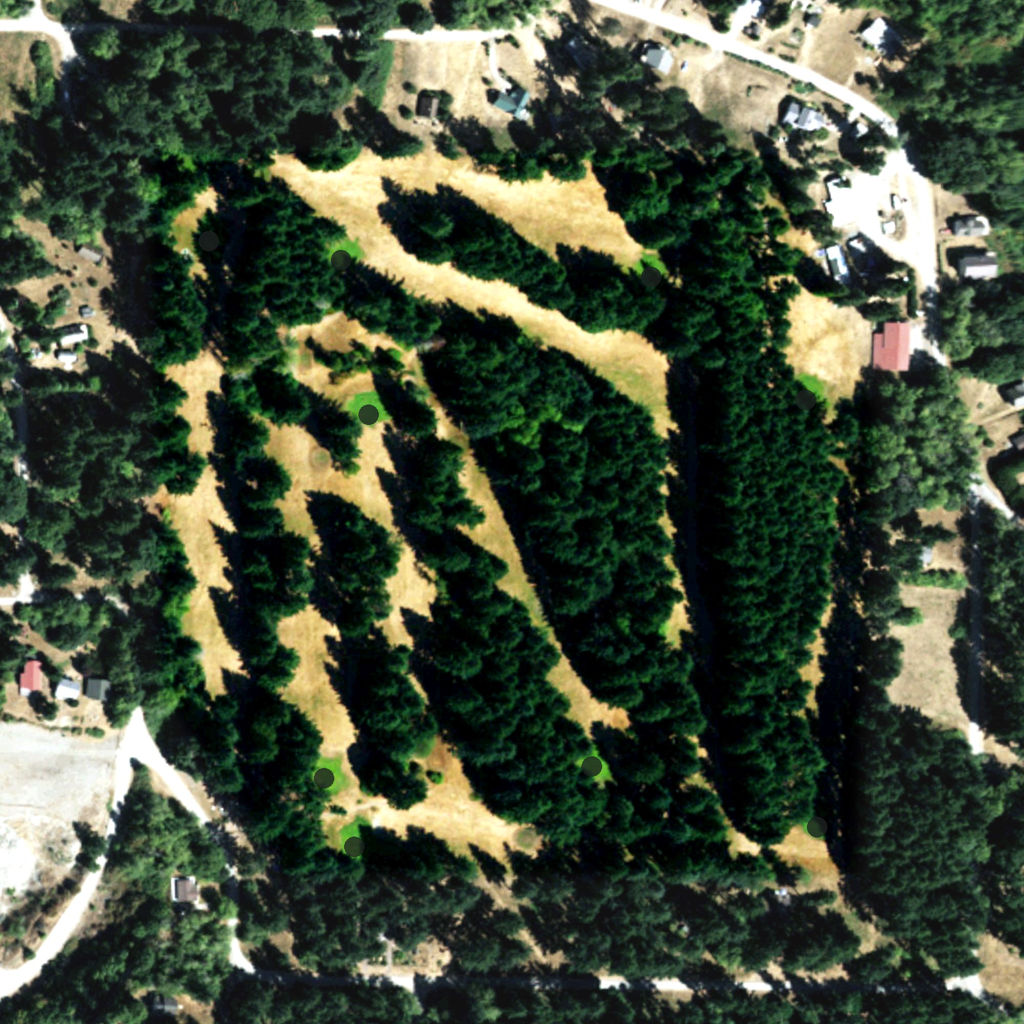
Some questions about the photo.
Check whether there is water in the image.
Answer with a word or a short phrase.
No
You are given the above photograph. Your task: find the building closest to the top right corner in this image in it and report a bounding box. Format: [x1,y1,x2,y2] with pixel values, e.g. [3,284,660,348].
[861,13,903,55]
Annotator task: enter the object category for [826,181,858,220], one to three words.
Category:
building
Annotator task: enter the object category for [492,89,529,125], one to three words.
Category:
house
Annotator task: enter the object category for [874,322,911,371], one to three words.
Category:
building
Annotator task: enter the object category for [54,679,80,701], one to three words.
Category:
house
